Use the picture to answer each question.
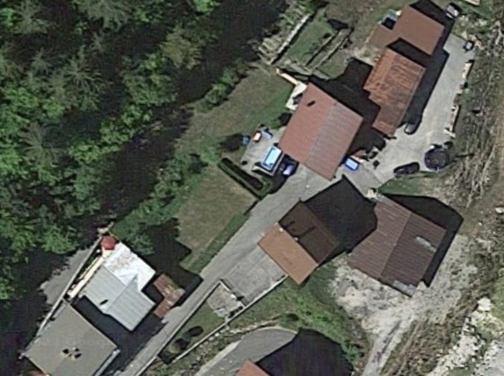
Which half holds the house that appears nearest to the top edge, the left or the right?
right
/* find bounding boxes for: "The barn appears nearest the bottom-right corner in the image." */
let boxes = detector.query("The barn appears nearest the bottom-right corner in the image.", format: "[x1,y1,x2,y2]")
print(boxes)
[348,194,447,297]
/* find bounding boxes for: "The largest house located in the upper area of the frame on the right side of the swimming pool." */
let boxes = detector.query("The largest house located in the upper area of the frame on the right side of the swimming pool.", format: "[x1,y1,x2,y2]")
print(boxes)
[277,70,363,181]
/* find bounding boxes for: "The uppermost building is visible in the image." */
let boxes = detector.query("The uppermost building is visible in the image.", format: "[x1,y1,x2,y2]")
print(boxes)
[368,5,445,57]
